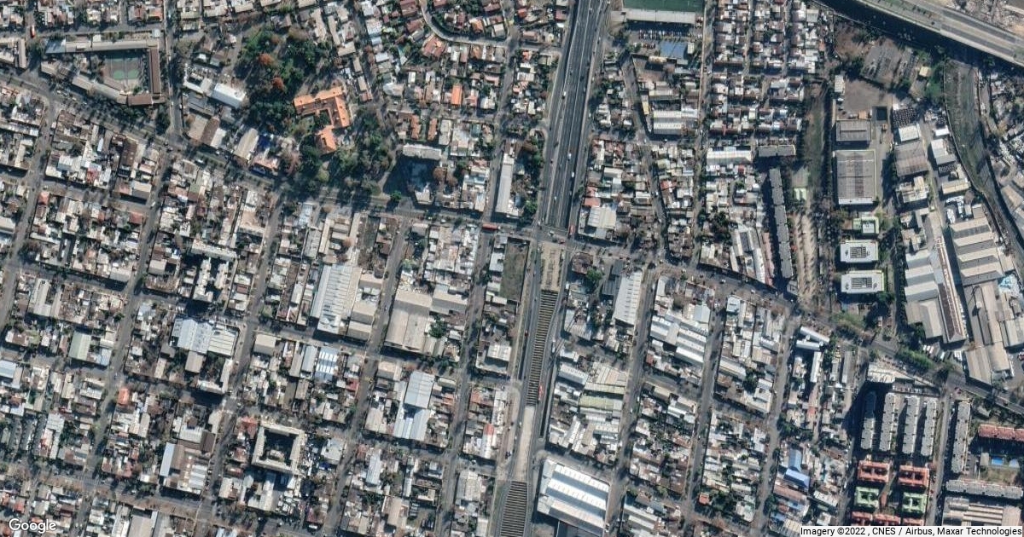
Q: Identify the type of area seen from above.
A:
residential area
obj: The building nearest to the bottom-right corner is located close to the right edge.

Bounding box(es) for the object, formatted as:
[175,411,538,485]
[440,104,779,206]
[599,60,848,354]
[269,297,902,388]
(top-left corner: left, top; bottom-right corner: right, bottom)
[1002,508,1022,536]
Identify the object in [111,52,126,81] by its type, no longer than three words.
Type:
sports court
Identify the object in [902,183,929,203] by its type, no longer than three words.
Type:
building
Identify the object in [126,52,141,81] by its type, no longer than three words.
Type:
sports court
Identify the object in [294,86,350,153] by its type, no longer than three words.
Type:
house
